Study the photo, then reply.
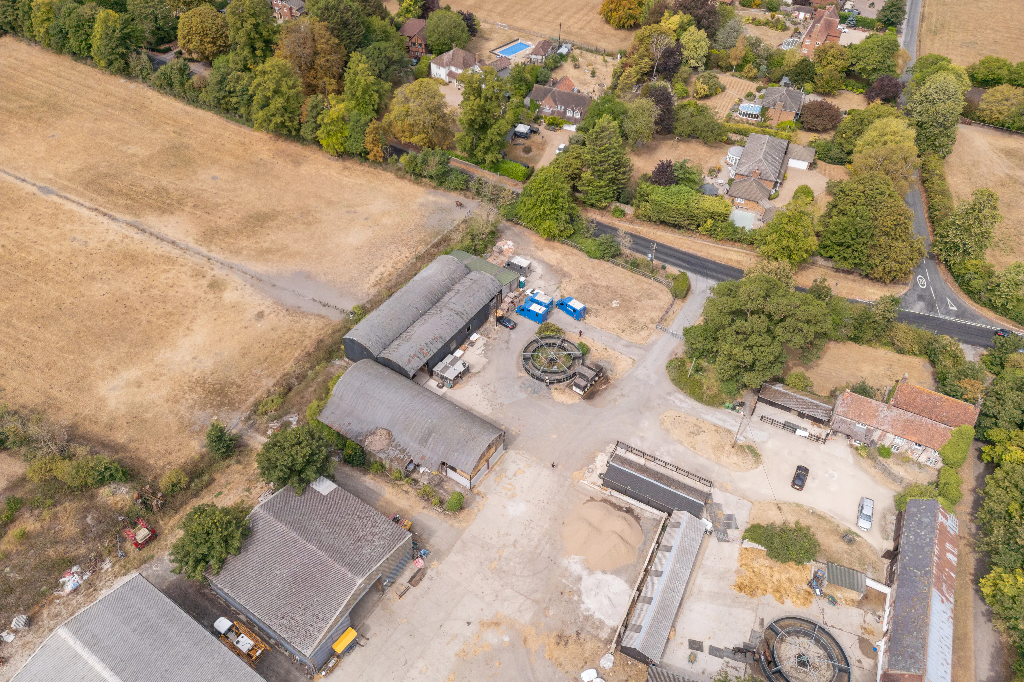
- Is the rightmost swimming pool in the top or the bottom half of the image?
top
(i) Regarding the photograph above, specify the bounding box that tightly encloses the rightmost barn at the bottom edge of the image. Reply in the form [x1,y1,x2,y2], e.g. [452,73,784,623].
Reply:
[882,501,960,682]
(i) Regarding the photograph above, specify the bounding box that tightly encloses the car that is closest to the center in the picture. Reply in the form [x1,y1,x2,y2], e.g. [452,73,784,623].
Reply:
[494,314,519,328]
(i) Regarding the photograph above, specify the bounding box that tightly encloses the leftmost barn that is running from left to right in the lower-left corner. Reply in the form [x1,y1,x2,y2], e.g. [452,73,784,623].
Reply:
[12,570,274,682]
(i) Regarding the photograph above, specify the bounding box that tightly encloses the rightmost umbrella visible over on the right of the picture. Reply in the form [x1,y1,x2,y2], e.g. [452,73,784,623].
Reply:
[704,178,725,192]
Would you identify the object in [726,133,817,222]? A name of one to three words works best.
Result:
house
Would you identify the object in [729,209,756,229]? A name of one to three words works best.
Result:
swimming pool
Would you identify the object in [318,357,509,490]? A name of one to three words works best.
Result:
barn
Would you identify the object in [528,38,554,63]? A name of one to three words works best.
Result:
shed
